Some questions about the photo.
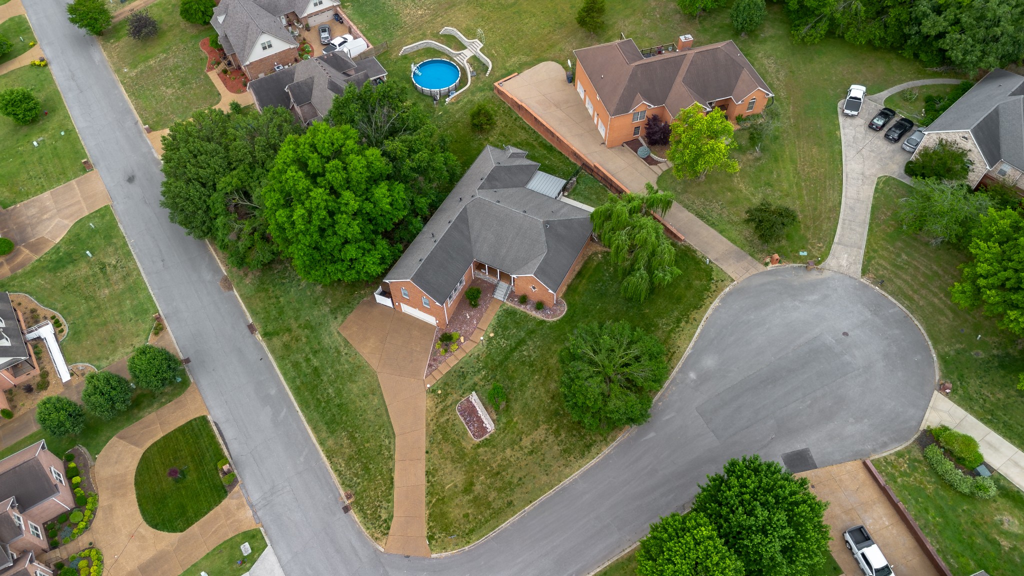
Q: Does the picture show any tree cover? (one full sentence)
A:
Yes, tree cover can be seen from above here.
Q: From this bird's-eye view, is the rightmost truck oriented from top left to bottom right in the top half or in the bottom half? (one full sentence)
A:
The rightmost truck oriented from top left to bottom right is in the bottom half of the image.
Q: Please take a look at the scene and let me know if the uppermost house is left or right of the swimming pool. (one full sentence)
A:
To the left of the swimming pool is where the uppermost house appears.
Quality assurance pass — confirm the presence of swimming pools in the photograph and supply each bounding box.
[411,59,462,96]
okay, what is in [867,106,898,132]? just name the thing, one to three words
car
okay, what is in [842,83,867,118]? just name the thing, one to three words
truck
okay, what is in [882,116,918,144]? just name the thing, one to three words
car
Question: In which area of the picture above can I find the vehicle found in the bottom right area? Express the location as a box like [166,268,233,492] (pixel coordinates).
[843,522,896,576]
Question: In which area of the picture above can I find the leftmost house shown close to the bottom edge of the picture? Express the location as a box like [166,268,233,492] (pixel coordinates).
[0,440,75,576]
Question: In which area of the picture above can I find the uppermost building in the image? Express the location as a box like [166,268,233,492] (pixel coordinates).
[201,0,341,81]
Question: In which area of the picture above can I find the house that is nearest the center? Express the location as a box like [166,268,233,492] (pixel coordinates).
[383,145,597,327]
